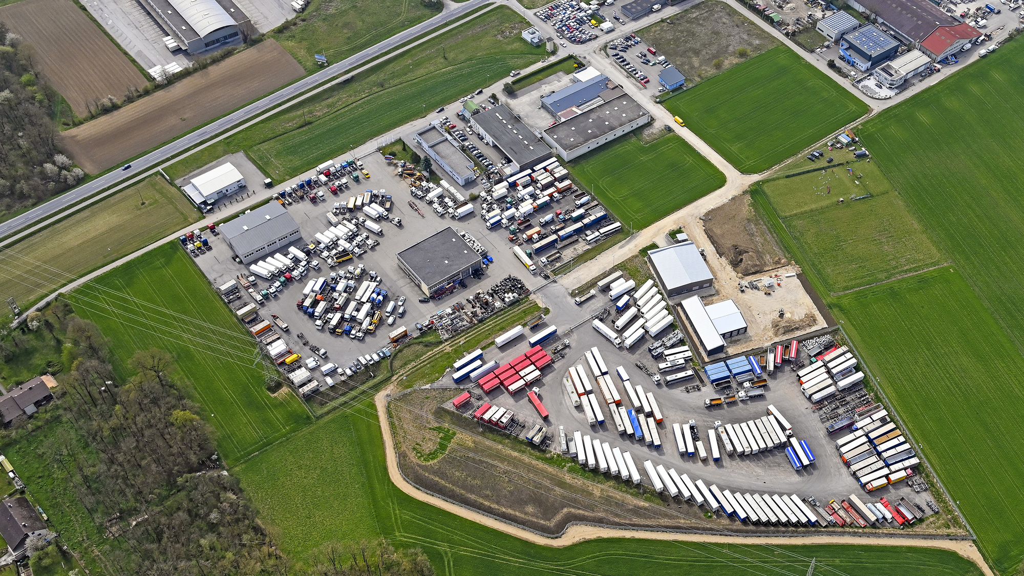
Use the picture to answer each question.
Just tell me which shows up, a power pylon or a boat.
power pylon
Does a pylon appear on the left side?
Yes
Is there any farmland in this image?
Yes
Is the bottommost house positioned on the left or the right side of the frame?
left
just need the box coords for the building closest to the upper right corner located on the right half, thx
[921,23,981,66]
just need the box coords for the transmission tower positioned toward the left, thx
[254,338,281,391]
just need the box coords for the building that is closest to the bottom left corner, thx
[0,492,50,555]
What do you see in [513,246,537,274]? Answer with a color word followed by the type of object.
white truck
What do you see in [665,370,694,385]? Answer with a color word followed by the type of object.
white vehicle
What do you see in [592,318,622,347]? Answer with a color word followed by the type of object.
white truck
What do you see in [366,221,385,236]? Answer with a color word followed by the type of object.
white vehicle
